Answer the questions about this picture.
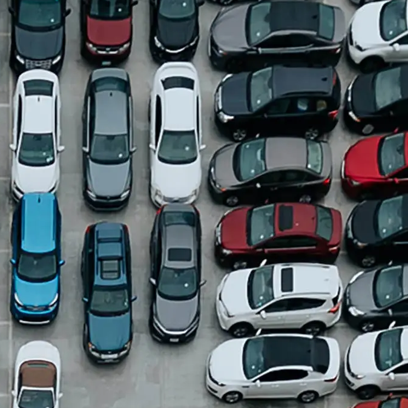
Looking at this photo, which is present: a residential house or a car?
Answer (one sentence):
Of the two, only a car appears.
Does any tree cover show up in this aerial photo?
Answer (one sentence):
No, there is no tree cover in the image.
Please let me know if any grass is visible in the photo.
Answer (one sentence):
No, there is no grass in the image.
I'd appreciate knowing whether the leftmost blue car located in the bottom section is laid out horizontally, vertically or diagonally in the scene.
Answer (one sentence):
The leftmost blue car located in the bottom section is oriented vertically.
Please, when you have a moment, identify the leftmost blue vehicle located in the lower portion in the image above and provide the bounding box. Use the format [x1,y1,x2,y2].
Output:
[9,197,67,324]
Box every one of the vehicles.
[215,64,343,142]
[7,0,72,71]
[347,261,408,333]
[11,341,64,408]
[211,0,347,73]
[215,200,344,272]
[344,124,408,201]
[351,0,408,69]
[79,0,140,61]
[150,66,207,205]
[11,71,65,201]
[348,61,408,135]
[148,0,207,58]
[80,224,138,362]
[219,263,345,338]
[150,205,207,343]
[349,192,408,267]
[82,73,138,209]
[9,197,67,324]
[348,325,408,401]
[207,333,342,404]
[211,135,335,206]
